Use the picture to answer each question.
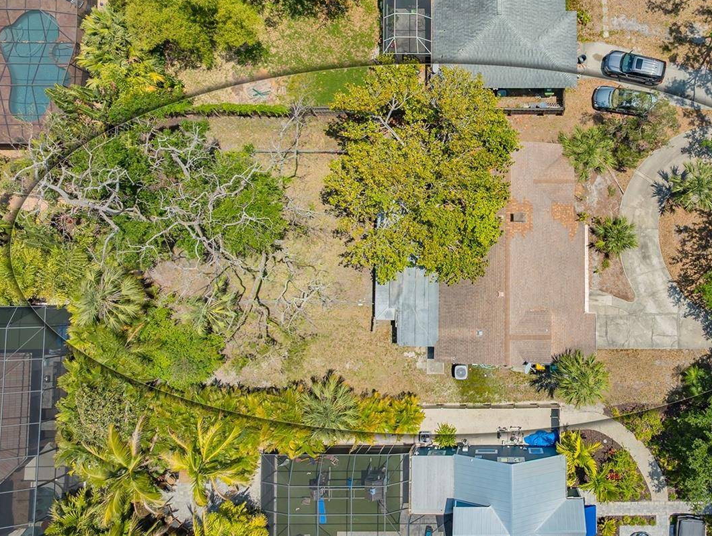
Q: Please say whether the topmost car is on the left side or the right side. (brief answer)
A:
right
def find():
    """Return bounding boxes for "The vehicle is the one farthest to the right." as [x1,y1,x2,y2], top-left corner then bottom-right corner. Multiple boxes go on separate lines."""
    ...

[671,513,701,536]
